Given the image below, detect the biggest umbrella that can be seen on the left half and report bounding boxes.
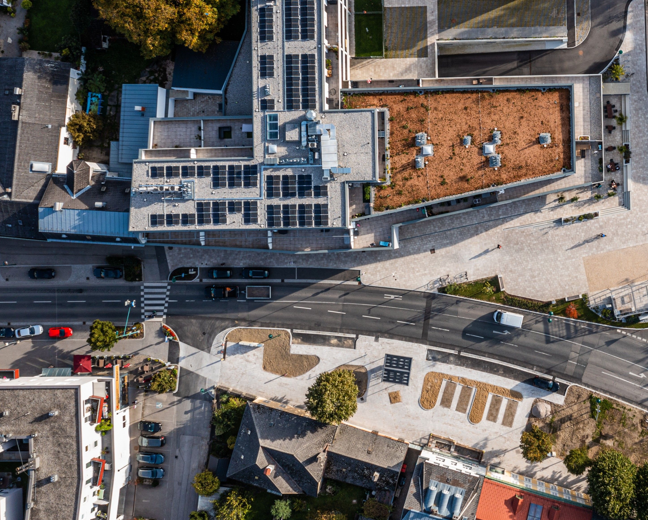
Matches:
[73,355,92,372]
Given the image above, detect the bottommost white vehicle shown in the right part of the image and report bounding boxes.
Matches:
[491,311,522,327]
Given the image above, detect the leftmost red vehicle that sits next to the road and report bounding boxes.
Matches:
[47,325,74,339]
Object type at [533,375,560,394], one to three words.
car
